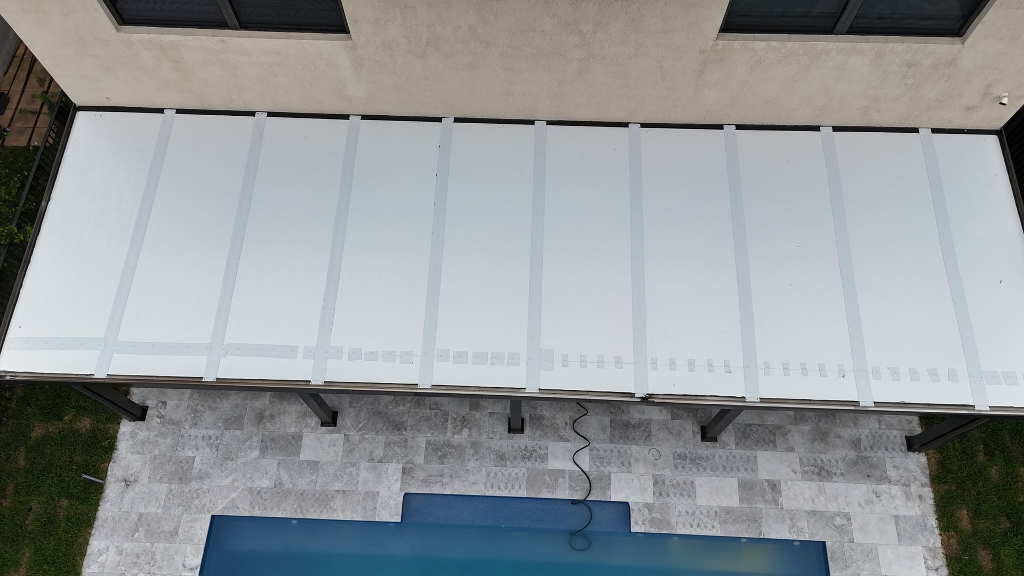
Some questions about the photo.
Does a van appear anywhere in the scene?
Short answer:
No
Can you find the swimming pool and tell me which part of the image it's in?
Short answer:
bottom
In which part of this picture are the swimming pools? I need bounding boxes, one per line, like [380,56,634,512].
[201,493,829,576]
